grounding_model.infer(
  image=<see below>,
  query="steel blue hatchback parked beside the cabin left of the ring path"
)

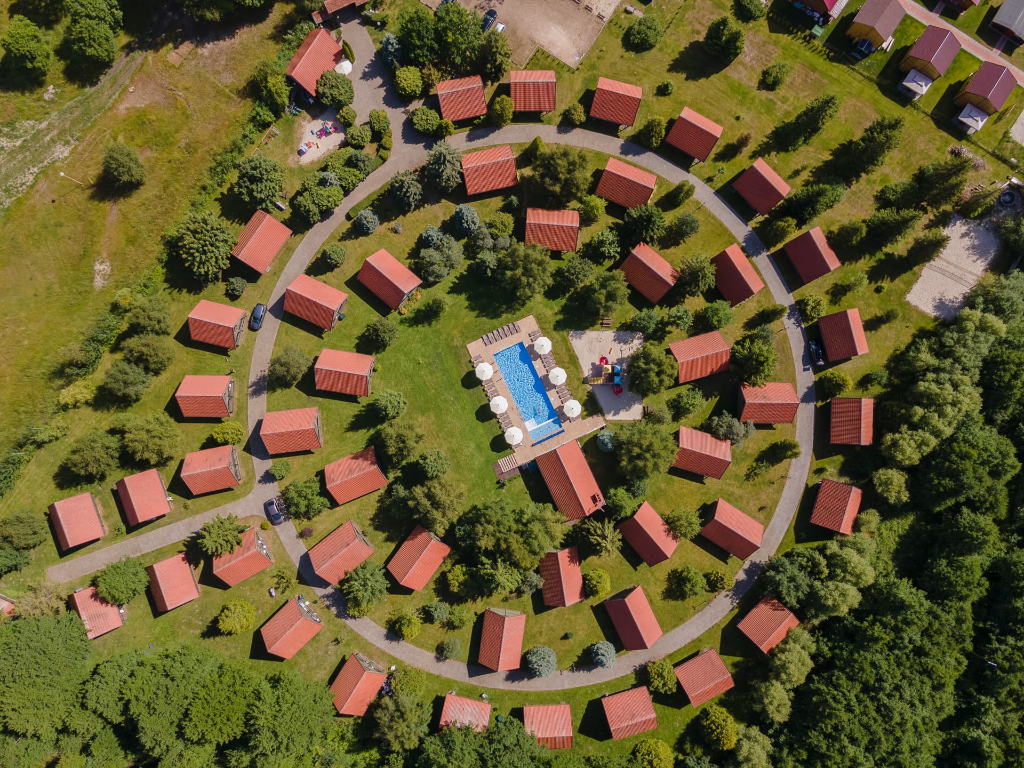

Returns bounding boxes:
[250,303,267,331]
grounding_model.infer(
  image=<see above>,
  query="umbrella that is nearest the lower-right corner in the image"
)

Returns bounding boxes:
[563,399,581,418]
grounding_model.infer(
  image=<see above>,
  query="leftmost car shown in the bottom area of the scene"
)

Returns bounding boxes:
[267,497,285,525]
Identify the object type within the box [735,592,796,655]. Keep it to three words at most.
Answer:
building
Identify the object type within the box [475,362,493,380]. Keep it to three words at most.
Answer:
umbrella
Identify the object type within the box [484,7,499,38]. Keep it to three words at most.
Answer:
car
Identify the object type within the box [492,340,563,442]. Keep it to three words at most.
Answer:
swimming pool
